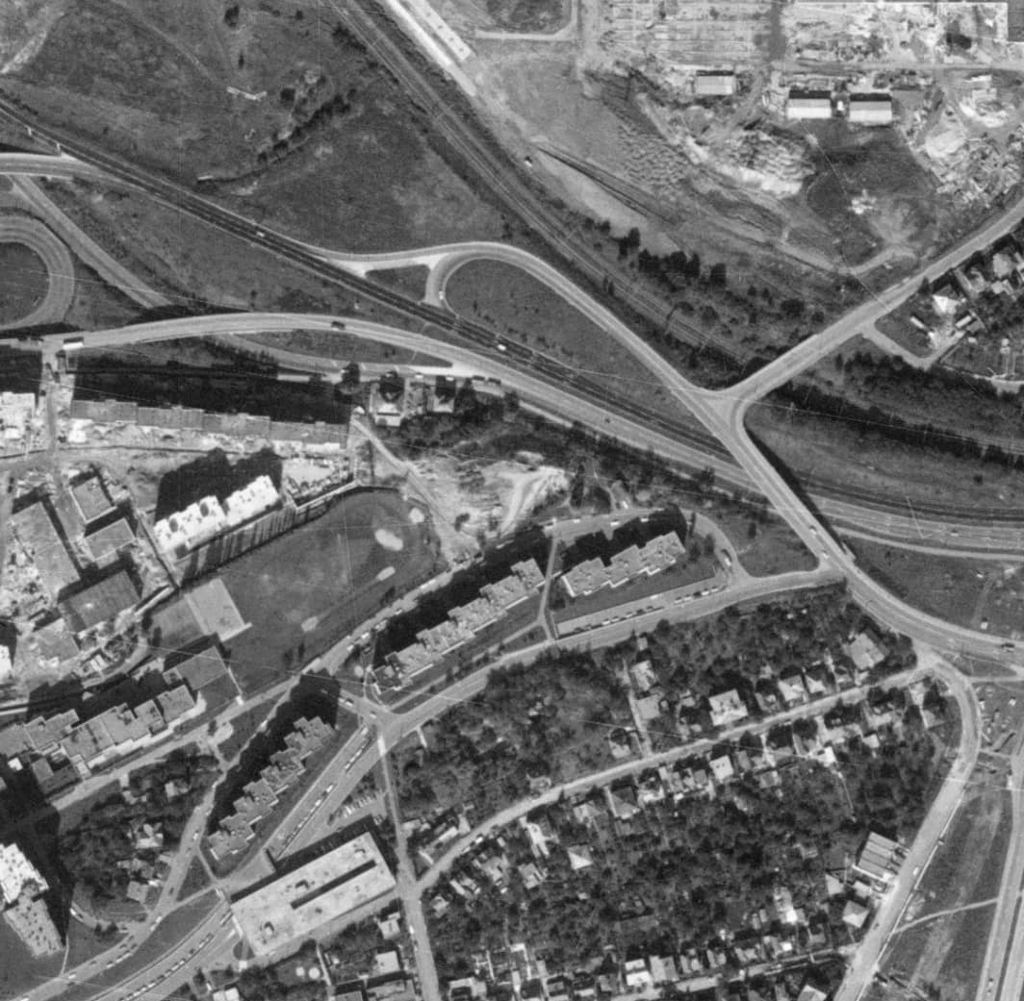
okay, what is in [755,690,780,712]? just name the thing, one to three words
house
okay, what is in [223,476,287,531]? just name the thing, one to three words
building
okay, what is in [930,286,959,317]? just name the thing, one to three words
house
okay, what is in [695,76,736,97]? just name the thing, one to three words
hangar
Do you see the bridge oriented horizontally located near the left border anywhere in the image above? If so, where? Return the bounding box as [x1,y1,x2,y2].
[0,311,286,351]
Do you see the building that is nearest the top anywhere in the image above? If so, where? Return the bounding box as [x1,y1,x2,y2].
[420,0,469,59]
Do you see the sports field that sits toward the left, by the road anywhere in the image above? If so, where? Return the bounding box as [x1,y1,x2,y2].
[190,489,437,694]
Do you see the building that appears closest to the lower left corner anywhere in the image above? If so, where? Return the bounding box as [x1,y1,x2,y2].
[4,881,81,958]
